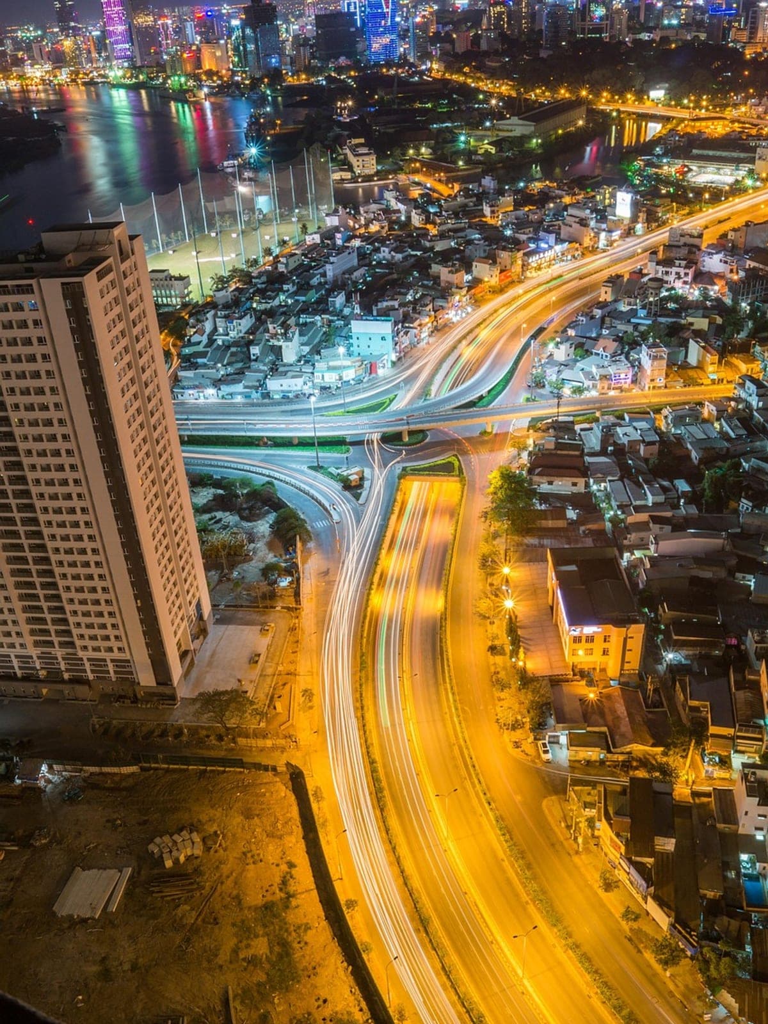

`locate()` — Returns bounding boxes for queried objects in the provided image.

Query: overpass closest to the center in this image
[172,320,745,443]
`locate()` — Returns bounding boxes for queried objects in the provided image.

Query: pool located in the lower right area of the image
[736,857,768,909]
